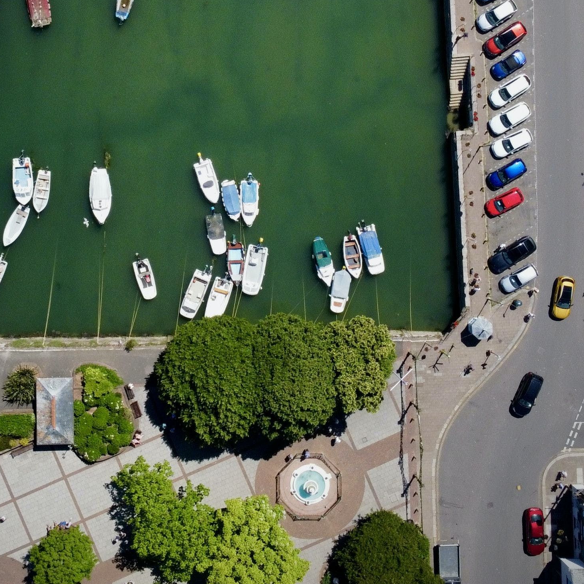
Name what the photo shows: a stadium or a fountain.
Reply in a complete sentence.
It is a fountain that can be seen here.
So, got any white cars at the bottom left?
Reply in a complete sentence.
No, looking at the bottom left, there is no white car.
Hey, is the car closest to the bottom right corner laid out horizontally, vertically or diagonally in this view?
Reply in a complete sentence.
The car closest to the bottom right corner is oriented vertically.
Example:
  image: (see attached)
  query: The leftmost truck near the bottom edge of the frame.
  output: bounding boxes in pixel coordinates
[438,543,465,584]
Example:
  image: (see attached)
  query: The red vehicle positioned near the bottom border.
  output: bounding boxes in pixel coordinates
[525,507,549,556]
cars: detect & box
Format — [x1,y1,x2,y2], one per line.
[488,100,534,135]
[550,276,577,319]
[499,262,542,294]
[485,188,527,219]
[525,507,549,556]
[486,159,530,191]
[488,235,540,274]
[491,127,535,160]
[488,72,534,107]
[483,21,529,58]
[508,371,543,418]
[476,0,520,31]
[491,49,529,79]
